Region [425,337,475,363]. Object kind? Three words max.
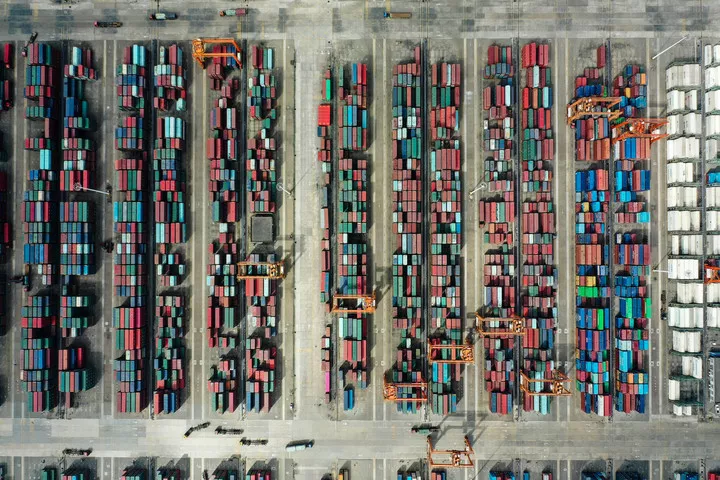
container crane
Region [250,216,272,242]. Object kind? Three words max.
shed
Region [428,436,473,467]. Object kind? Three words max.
container crane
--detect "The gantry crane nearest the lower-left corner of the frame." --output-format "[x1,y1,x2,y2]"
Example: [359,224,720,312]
[238,260,288,279]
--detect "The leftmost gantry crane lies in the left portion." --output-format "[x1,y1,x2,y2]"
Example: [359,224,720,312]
[192,39,241,70]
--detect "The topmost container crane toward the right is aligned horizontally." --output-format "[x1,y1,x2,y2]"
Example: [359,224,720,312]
[569,97,622,125]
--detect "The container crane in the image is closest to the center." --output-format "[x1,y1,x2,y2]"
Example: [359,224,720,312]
[333,290,377,313]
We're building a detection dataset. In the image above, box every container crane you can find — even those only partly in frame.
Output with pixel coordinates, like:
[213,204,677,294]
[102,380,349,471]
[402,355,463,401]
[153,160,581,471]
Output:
[238,260,288,279]
[428,436,473,467]
[383,373,428,402]
[569,97,622,125]
[519,369,571,396]
[192,39,241,70]
[425,337,475,363]
[475,312,526,335]
[333,290,377,313]
[612,119,668,145]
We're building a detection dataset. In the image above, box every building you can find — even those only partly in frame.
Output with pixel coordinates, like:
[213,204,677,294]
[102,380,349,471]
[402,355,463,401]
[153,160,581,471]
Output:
[713,359,720,403]
[250,216,272,242]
